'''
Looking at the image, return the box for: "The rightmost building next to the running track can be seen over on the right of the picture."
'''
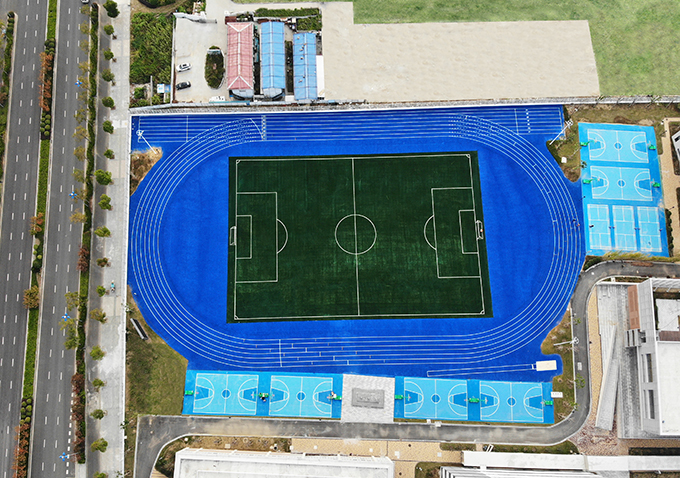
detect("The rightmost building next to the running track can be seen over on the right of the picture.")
[590,277,680,439]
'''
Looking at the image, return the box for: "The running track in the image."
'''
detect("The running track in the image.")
[128,105,587,382]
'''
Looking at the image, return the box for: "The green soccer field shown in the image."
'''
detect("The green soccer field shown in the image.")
[226,151,493,323]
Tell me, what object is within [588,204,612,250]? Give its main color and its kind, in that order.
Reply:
blue sports court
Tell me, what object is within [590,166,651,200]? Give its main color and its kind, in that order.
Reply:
blue basketball court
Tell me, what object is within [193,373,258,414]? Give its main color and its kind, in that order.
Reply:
blue basketball court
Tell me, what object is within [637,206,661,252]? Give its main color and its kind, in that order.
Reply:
blue sports court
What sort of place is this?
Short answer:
sports ground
